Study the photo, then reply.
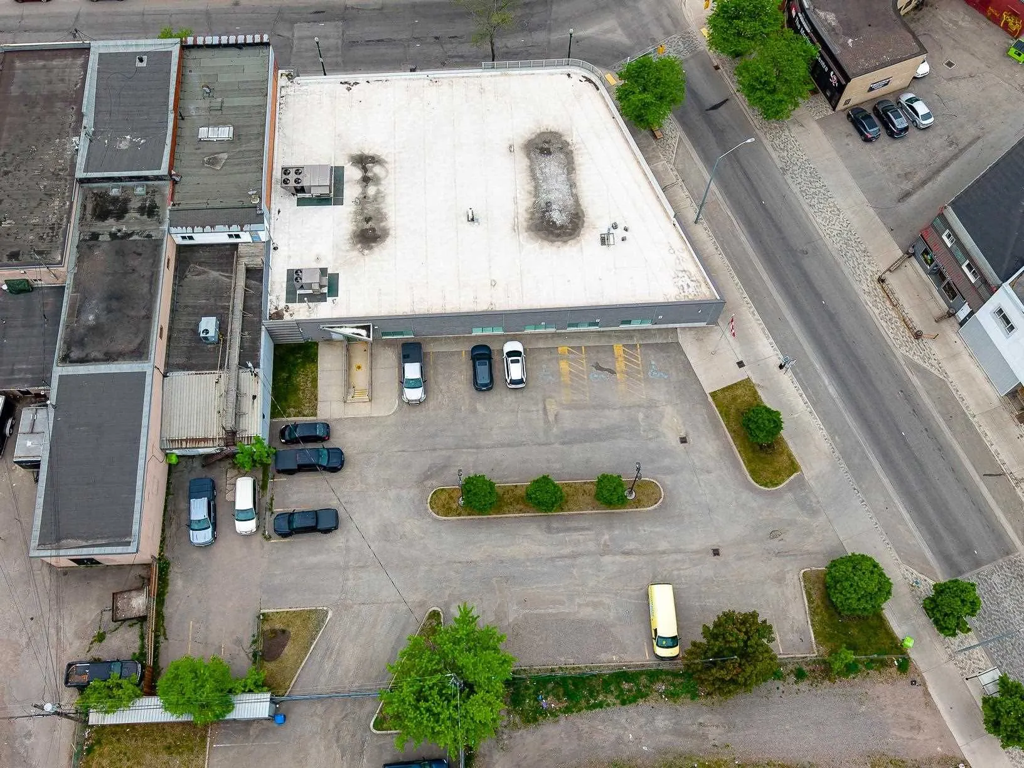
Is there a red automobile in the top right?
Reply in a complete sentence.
No, no red automobile is visible in the top right.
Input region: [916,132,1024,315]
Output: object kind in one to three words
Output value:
building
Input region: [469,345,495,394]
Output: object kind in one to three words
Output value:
car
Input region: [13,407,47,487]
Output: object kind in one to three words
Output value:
trailer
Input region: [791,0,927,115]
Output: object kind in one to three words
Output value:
building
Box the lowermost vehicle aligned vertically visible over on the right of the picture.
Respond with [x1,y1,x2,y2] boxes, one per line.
[648,583,681,660]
